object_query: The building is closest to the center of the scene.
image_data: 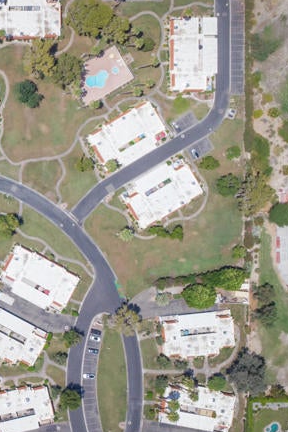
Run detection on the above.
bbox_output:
[121,163,203,228]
